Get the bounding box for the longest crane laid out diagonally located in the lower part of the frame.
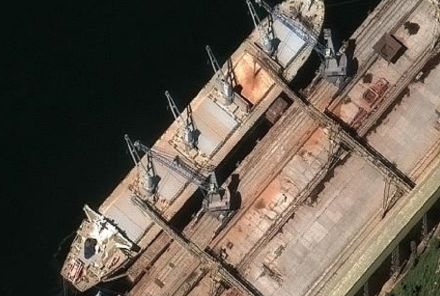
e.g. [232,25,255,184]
[135,141,235,239]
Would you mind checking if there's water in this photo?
Yes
